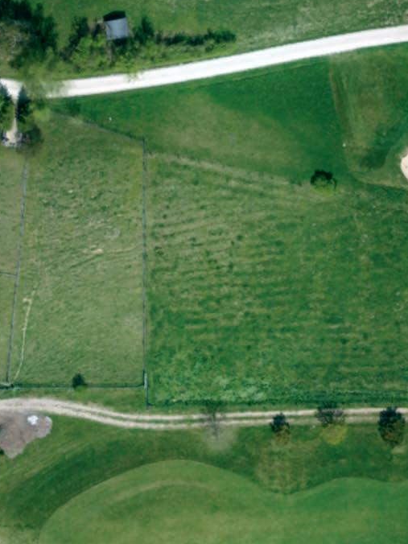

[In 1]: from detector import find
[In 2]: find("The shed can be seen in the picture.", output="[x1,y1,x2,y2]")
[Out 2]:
[103,15,129,41]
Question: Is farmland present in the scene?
Yes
